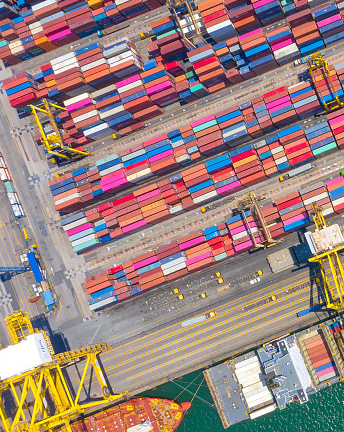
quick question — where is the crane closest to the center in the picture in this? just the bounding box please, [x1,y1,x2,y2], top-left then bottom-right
[229,191,284,252]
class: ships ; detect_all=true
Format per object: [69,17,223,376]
[51,397,195,432]
[203,316,344,427]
